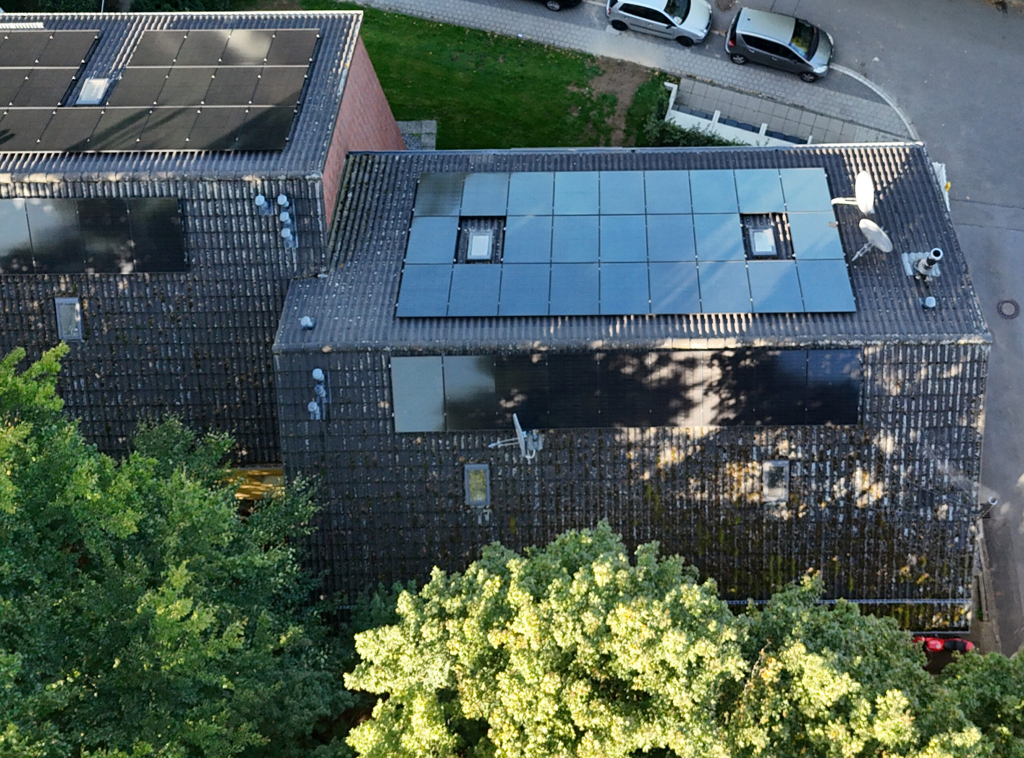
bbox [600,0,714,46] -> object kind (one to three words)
car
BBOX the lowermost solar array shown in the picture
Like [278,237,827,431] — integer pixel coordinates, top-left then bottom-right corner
[390,350,862,432]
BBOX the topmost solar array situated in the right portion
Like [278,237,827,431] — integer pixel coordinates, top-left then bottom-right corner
[395,167,855,317]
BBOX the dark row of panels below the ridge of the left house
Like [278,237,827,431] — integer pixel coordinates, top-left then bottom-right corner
[0,198,188,276]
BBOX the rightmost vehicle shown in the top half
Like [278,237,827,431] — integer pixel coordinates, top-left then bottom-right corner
[719,1,834,78]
